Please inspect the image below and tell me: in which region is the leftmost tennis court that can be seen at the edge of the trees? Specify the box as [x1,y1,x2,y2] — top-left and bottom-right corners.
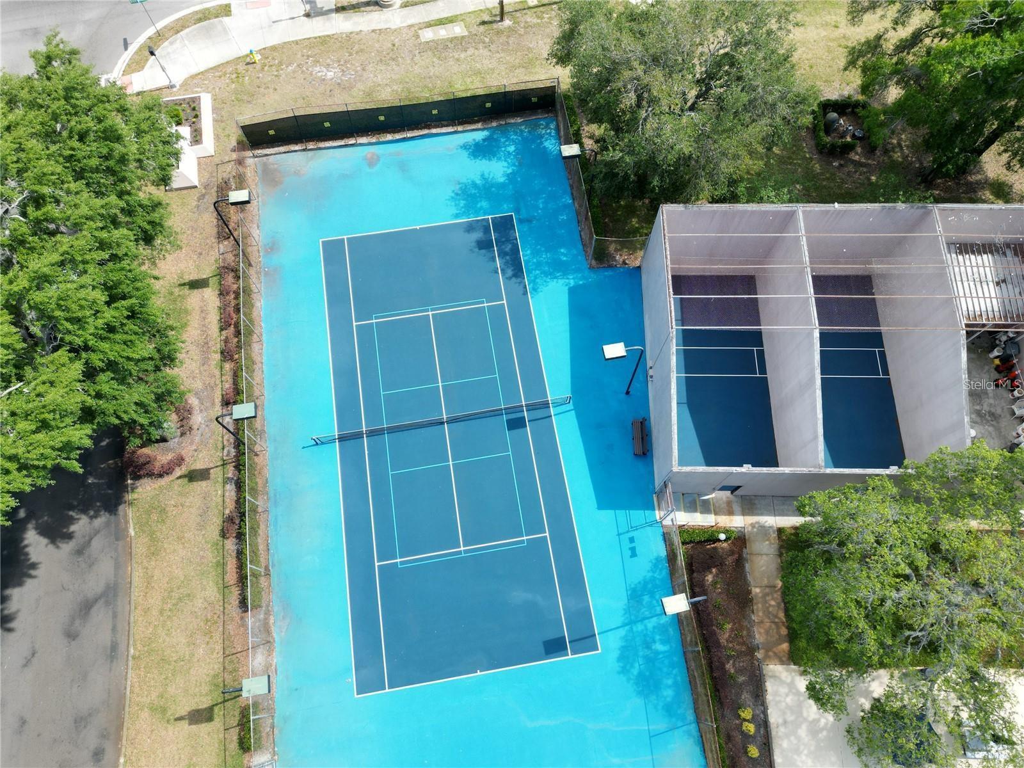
[256,118,707,768]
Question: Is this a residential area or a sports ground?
sports ground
